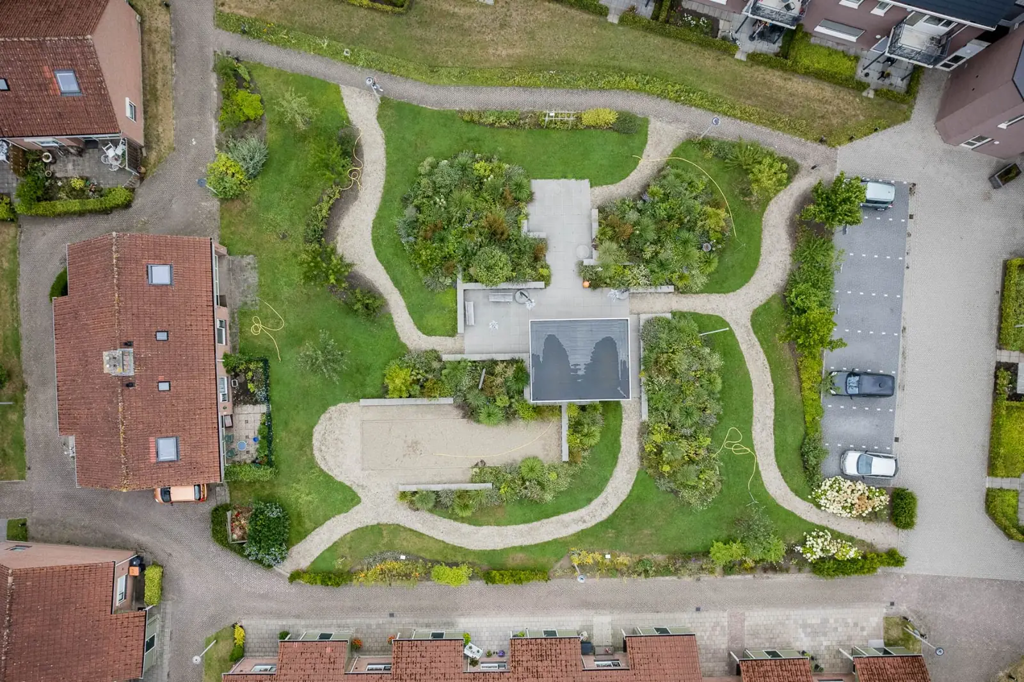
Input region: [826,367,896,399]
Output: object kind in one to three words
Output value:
car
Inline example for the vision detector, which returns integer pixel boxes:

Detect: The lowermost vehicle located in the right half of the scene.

[836,449,899,480]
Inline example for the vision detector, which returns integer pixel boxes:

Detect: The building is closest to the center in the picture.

[529,318,632,403]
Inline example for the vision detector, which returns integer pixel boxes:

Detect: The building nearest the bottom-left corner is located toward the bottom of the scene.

[0,537,154,682]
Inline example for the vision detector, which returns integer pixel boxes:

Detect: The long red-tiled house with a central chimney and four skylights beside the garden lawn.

[51,231,234,493]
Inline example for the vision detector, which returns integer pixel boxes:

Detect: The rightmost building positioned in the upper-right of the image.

[935,0,1024,159]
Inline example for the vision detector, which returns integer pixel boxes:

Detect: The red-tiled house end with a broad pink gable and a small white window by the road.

[0,0,145,147]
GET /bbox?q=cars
[155,485,208,506]
[826,367,896,399]
[832,181,897,210]
[836,449,899,480]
